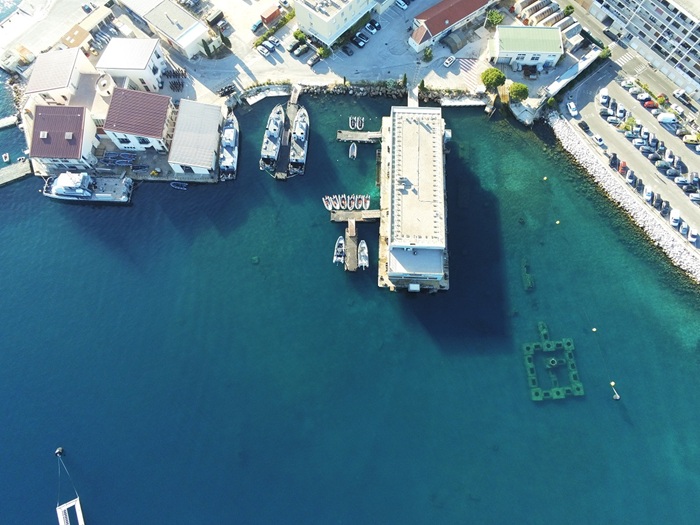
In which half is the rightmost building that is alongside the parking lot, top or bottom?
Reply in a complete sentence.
You can find the rightmost building that is alongside the parking lot in the top half.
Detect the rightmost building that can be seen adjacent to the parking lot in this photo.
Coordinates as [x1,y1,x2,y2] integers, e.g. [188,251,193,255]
[579,0,700,116]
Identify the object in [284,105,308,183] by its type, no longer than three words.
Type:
boat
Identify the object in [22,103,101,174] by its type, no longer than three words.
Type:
house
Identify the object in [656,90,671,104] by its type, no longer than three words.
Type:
vehicle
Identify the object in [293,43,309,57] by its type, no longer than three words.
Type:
vehicle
